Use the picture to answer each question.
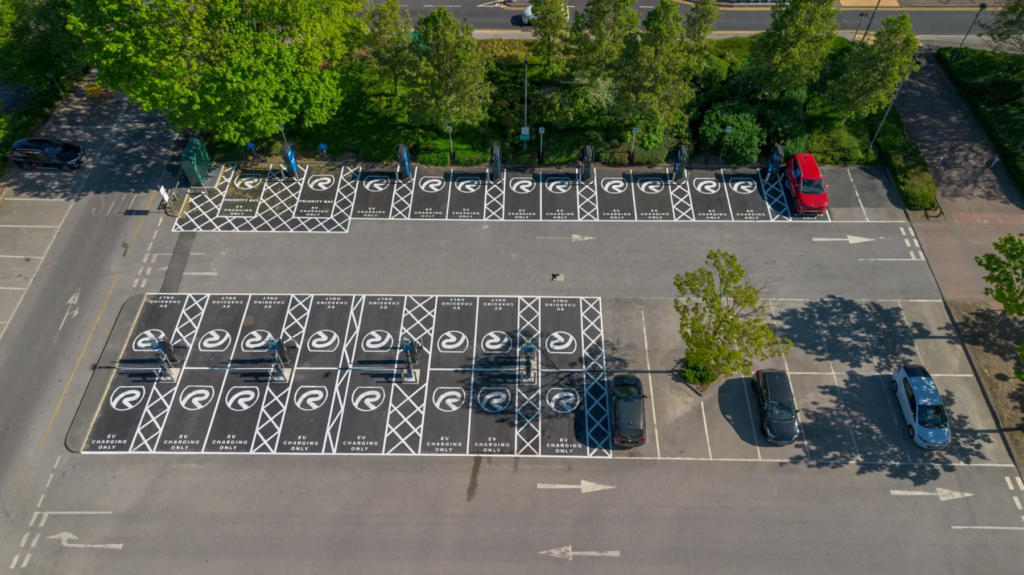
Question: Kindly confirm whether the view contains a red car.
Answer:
Yes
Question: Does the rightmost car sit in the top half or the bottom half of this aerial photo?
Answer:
bottom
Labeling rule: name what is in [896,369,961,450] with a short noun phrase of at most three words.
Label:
car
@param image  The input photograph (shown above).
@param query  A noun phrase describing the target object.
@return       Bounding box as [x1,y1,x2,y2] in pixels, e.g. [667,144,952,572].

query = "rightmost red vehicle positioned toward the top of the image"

[788,153,832,209]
